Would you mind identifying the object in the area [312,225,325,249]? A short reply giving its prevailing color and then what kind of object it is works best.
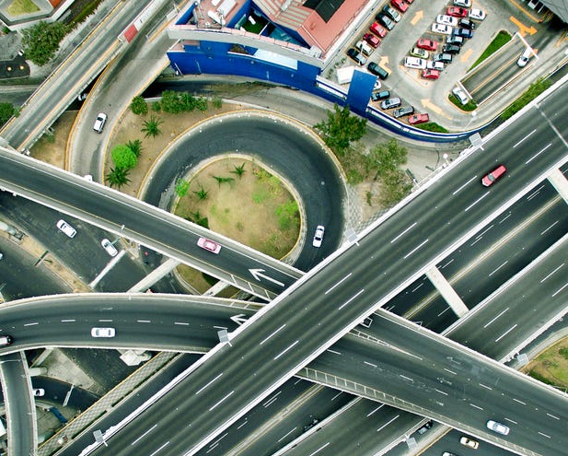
white vehicle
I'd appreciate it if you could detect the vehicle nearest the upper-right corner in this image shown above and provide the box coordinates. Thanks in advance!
[516,46,532,69]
